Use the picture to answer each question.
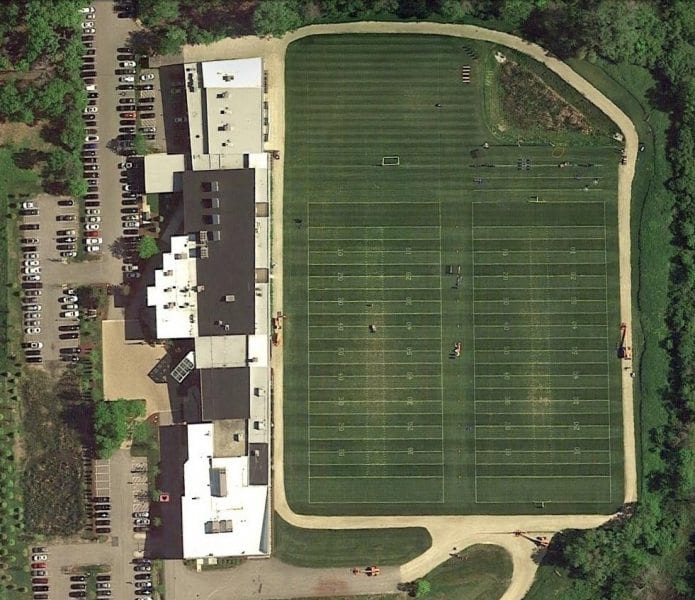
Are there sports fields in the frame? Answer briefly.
Yes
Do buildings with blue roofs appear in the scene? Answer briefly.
No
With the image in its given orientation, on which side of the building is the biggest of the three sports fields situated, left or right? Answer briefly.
on its right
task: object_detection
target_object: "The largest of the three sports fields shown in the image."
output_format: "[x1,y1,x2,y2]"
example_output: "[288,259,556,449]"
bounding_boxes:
[283,33,624,516]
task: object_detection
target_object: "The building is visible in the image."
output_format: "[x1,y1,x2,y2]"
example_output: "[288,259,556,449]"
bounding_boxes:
[145,58,274,558]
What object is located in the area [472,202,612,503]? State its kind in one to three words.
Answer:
sports field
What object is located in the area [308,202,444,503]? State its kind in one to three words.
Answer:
sports field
